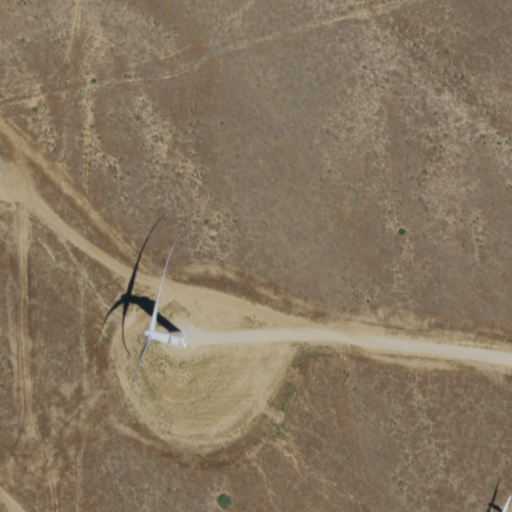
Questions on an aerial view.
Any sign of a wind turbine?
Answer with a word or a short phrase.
Yes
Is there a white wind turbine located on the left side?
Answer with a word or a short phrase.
Yes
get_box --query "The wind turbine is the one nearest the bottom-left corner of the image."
[132,234,188,396]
